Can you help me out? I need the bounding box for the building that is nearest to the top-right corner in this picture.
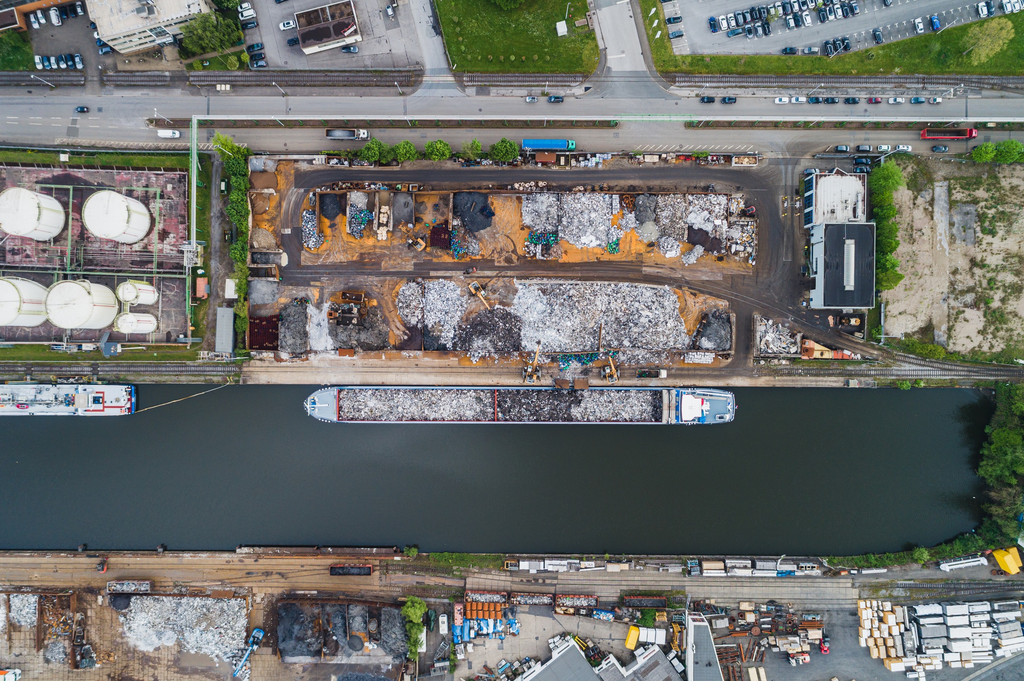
[804,168,867,228]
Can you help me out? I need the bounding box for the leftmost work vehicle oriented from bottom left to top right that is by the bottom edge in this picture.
[227,625,267,681]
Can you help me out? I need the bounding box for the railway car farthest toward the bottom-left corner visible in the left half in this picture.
[107,580,156,593]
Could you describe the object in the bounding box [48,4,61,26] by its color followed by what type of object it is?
white vehicle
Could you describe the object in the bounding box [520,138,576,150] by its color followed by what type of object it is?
blue vehicle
